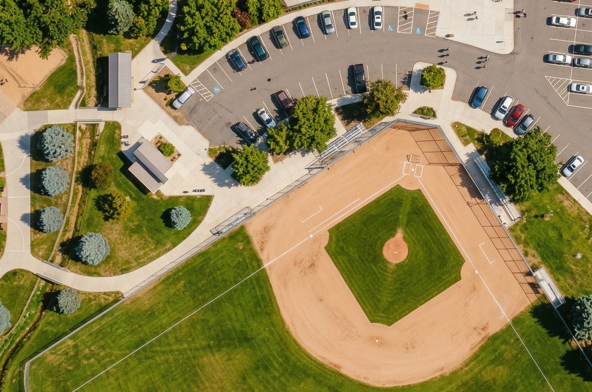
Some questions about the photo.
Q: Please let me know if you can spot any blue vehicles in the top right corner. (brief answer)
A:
Yes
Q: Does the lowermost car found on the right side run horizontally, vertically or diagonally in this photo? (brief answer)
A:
diagonally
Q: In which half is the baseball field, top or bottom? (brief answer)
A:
bottom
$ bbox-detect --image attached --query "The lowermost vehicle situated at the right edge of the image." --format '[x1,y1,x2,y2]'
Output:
[564,154,584,177]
